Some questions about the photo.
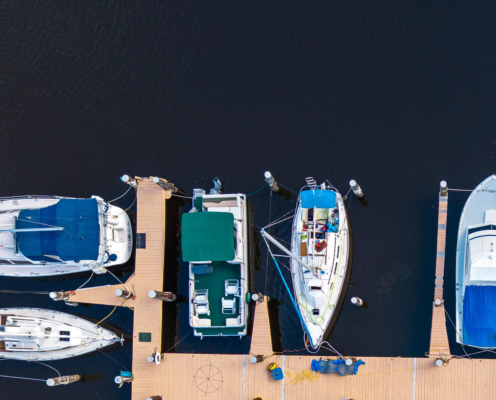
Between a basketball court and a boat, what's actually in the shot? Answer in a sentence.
Of the two, only a boat appears.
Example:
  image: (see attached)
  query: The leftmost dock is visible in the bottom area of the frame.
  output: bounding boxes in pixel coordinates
[69,267,137,307]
